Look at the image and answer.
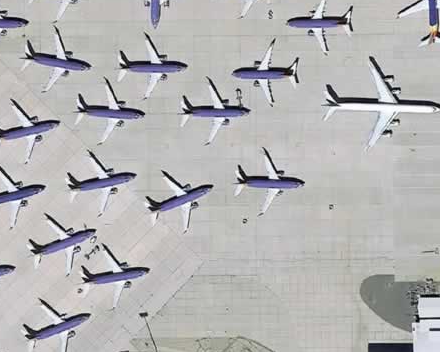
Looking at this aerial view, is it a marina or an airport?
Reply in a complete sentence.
The area seen from above is an airport.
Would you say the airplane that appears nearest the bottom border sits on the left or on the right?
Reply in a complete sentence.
You can find the airplane that appears nearest the bottom border on the left side of the picture.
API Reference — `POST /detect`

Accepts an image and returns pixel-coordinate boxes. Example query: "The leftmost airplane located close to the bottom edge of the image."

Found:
[21,301,91,352]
